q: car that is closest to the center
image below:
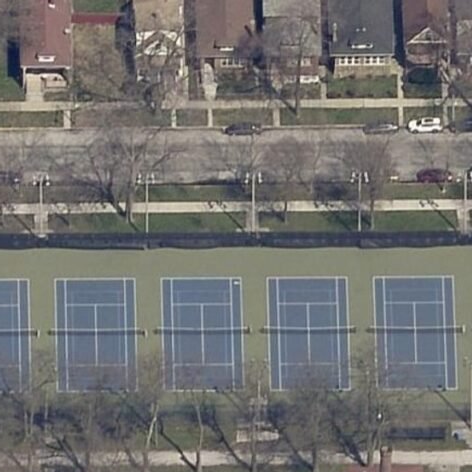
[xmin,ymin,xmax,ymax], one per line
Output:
[226,122,261,137]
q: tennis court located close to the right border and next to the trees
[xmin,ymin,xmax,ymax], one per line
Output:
[372,275,458,389]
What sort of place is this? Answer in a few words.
residential area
